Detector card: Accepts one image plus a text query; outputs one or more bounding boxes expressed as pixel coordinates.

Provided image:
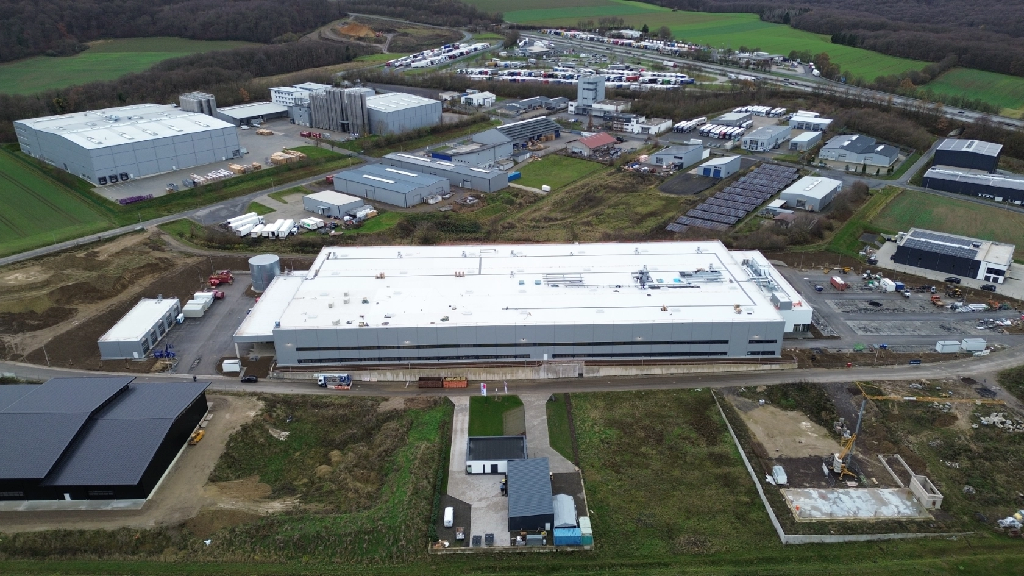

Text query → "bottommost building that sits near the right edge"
[891,227,1018,284]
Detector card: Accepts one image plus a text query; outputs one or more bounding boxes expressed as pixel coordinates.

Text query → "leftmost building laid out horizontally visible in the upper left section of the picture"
[0,109,240,186]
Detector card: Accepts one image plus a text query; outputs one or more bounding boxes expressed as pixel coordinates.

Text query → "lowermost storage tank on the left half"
[247,251,282,290]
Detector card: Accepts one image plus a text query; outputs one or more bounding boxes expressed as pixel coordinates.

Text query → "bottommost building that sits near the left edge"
[0,376,212,503]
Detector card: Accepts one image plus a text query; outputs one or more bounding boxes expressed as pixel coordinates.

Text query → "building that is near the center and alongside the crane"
[234,238,813,366]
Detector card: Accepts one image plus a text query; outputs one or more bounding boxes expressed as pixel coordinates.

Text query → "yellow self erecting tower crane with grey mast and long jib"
[827,382,1007,485]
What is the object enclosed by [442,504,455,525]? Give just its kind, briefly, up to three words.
vehicle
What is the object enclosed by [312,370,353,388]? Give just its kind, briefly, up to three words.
vehicle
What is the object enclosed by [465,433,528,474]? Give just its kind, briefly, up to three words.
house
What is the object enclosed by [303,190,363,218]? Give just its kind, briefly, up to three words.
building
